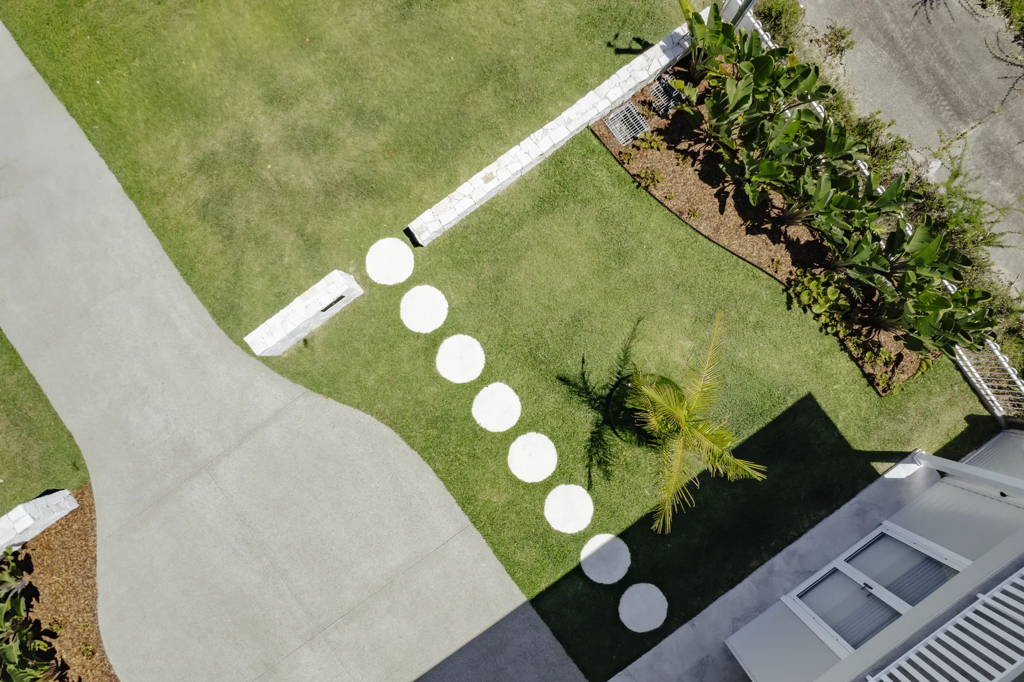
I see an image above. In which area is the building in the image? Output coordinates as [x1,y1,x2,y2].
[724,448,1024,682]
